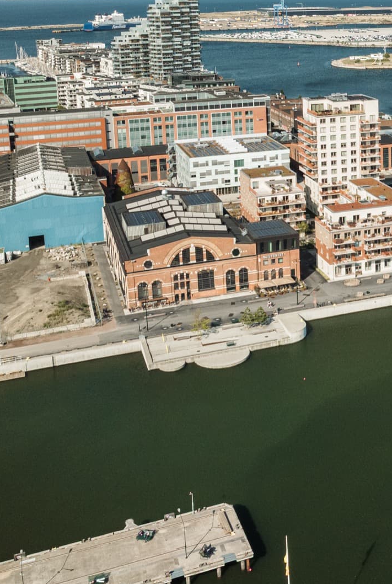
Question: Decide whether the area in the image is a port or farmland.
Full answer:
The area seen from above is a port.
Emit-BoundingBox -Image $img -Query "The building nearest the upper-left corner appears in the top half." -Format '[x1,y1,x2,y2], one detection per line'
[38,40,67,70]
